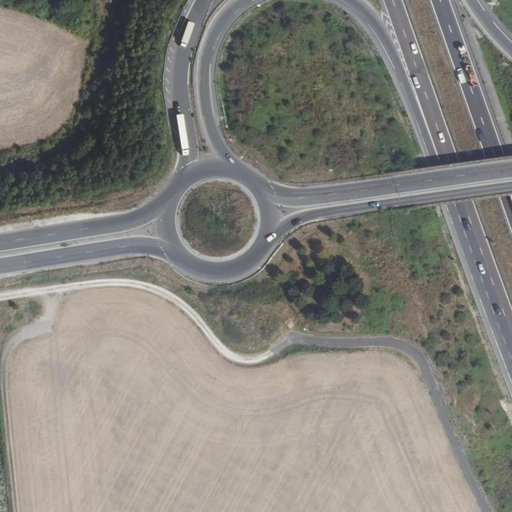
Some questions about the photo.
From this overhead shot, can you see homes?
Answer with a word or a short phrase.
No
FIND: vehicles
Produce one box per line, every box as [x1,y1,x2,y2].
[468,66,476,84]
[462,218,470,230]
[438,131,445,143]
[178,113,189,156]
[412,75,420,88]
[477,130,484,141]
[226,152,236,163]
[370,202,380,208]
[410,41,417,52]
[174,102,179,112]
[291,218,302,226]
[180,19,194,48]
[266,233,276,242]
[478,262,486,274]
[457,68,467,84]
[458,48,478,87]
[494,302,502,315]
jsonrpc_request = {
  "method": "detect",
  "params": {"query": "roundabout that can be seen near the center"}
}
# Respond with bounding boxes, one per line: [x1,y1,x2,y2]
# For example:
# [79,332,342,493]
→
[127,131,300,285]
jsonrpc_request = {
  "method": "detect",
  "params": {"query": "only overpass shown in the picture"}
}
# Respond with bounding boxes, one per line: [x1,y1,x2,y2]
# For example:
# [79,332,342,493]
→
[392,156,512,212]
